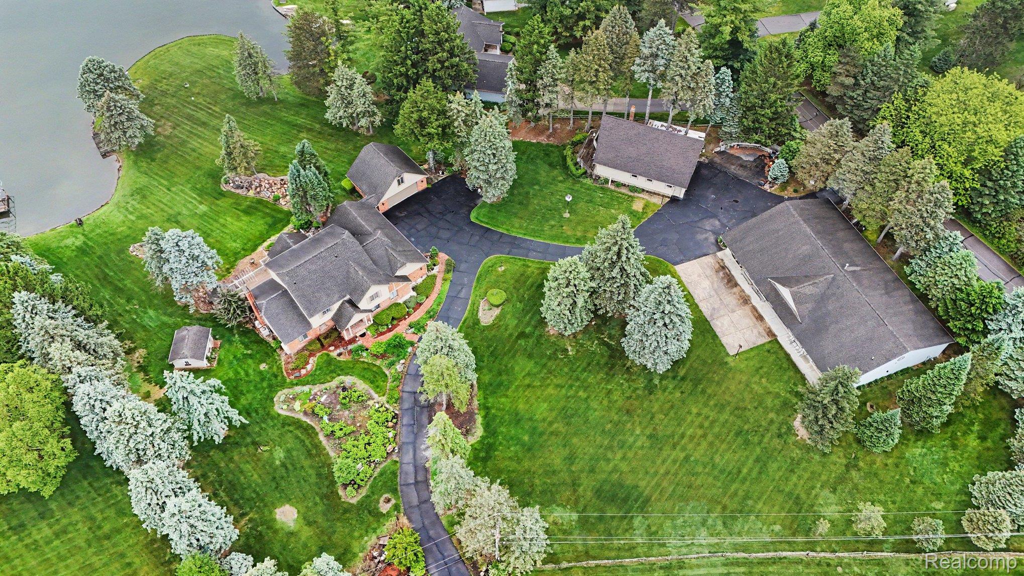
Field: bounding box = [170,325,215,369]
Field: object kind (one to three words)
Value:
shed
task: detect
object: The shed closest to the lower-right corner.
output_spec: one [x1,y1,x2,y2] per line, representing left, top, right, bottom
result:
[718,198,955,383]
